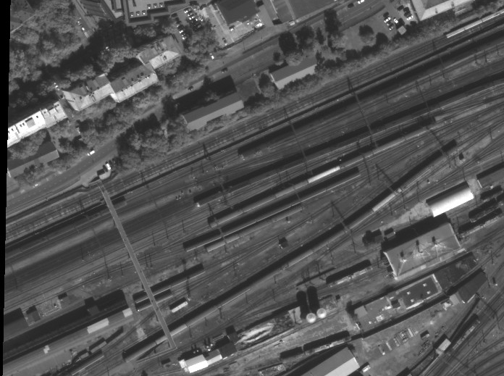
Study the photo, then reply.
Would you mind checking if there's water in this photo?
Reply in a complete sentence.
No, no water is visible.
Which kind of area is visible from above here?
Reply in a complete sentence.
The picture captures a rail yard.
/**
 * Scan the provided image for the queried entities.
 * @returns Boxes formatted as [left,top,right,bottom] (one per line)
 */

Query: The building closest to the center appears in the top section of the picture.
[178,90,244,131]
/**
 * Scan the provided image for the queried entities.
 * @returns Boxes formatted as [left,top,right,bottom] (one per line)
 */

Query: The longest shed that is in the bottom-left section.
[1,290,128,360]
